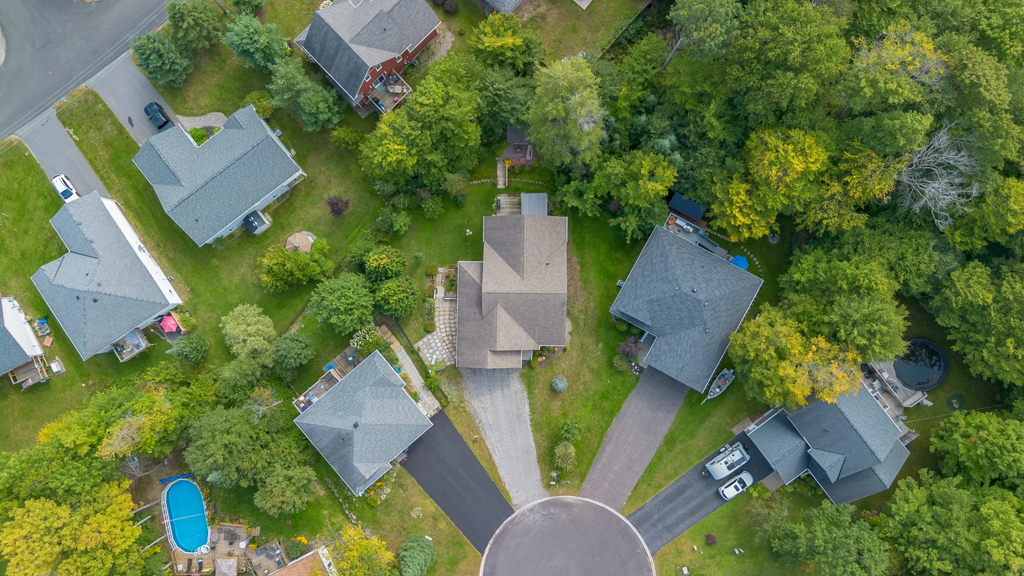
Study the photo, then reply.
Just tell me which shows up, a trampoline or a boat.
boat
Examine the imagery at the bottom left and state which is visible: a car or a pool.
pool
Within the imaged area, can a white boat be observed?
No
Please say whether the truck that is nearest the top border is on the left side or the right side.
left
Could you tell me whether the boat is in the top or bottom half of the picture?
bottom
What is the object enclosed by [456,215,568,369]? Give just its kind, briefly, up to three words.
house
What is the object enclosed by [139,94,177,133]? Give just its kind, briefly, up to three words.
truck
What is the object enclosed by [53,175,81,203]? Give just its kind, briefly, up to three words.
car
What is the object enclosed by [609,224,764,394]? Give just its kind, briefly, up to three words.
house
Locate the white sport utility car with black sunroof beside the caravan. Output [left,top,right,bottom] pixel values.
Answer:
[716,470,755,502]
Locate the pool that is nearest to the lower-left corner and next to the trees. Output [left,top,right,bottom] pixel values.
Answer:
[160,477,212,553]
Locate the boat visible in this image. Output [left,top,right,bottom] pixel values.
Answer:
[701,368,738,407]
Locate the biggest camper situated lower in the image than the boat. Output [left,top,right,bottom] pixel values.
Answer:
[699,440,750,479]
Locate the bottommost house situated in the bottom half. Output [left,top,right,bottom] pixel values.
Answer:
[261,542,343,576]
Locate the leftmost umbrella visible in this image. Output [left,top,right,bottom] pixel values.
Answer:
[159,315,178,333]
